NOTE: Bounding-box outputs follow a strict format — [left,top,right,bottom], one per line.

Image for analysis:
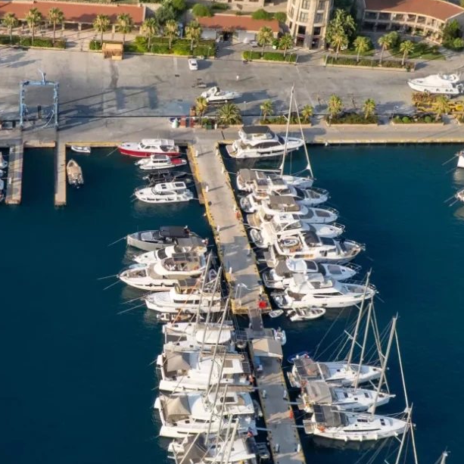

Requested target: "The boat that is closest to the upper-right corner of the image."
[406,69,464,95]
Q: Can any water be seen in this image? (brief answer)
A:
Yes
